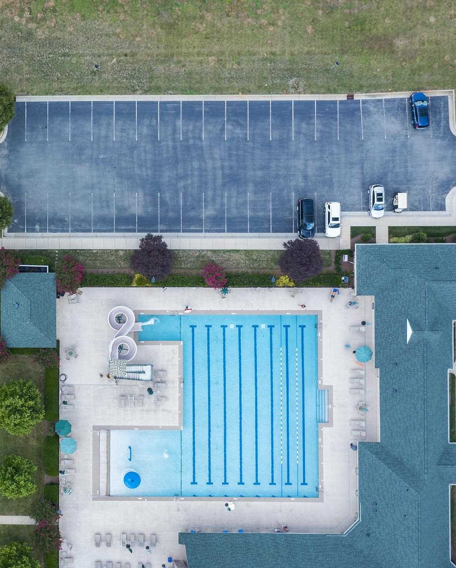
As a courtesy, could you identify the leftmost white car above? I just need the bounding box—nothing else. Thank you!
[324,202,343,236]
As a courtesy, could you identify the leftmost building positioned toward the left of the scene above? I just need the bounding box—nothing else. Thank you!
[0,272,57,349]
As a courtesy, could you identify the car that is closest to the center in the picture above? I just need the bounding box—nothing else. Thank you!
[297,199,318,237]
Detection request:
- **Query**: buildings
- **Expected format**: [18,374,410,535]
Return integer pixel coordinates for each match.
[171,243,456,568]
[0,272,57,349]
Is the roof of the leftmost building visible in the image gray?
No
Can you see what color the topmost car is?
blue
